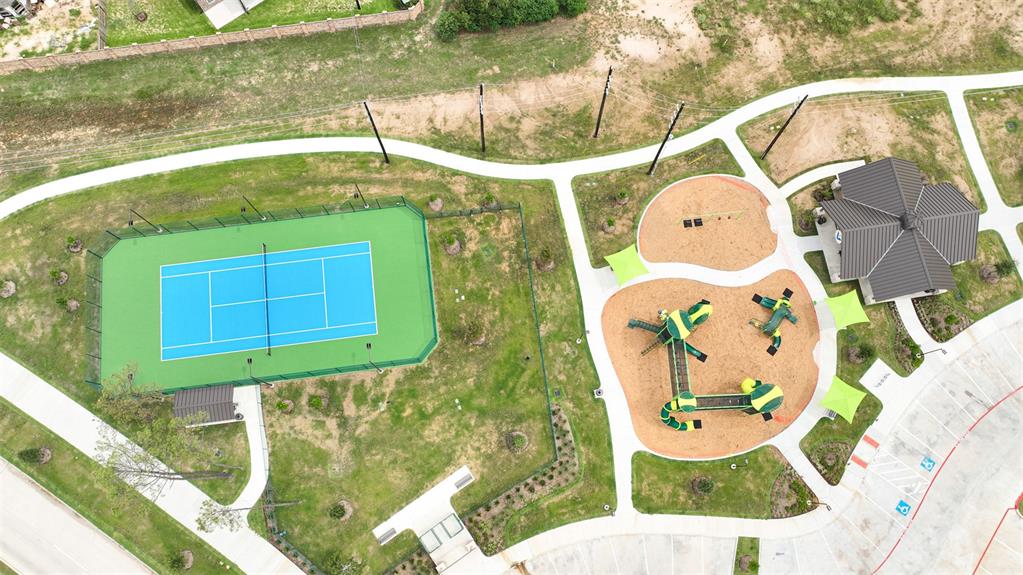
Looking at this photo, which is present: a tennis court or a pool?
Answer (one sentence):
Visible in the photo is a tennis court.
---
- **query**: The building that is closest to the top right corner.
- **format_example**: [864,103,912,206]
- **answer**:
[812,157,979,304]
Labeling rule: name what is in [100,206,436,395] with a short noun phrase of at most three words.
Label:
tennis court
